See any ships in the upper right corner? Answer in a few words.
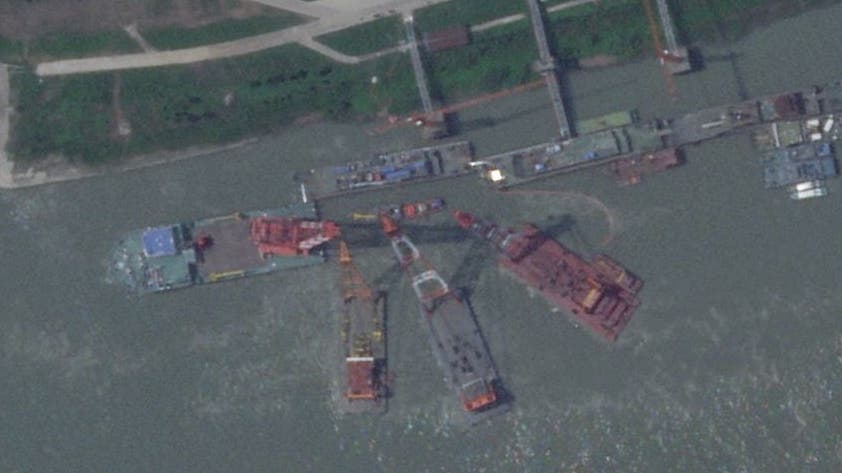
Yes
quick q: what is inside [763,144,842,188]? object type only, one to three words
ship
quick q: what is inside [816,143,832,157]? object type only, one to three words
boat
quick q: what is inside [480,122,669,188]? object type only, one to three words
pier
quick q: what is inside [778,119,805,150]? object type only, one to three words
ship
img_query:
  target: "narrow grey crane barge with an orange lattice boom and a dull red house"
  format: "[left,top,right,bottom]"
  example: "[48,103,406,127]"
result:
[336,239,400,407]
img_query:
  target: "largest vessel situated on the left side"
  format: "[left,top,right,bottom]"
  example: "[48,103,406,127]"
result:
[112,192,372,291]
